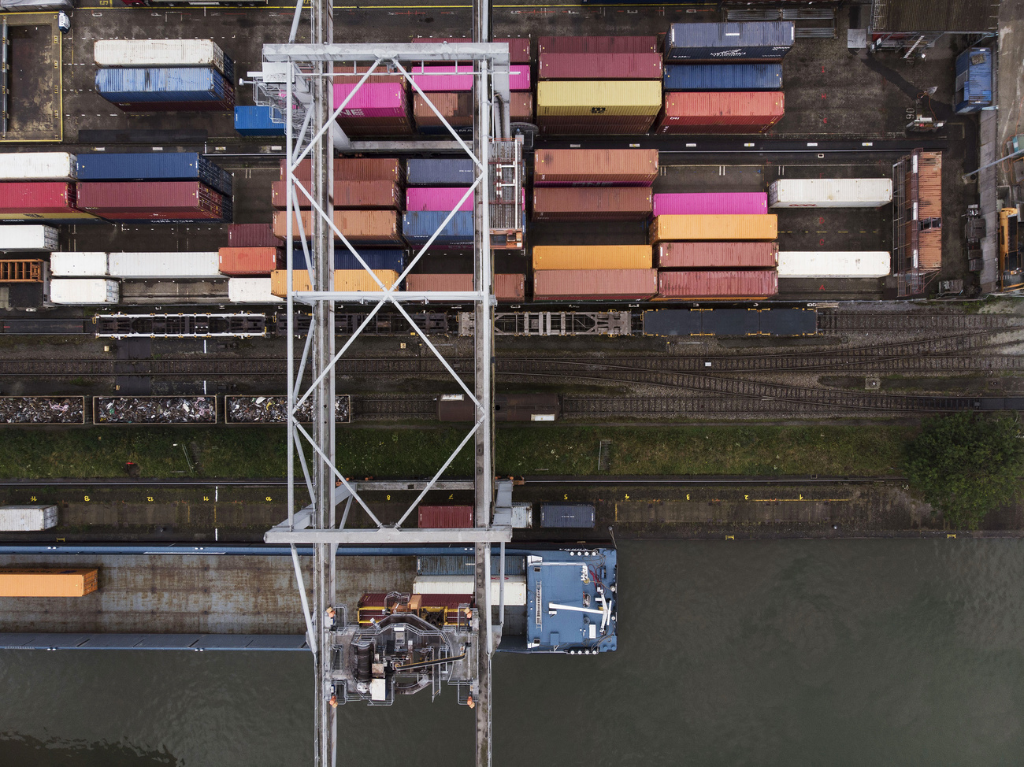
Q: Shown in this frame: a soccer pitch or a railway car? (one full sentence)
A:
Looking from above, you can make out a railway car.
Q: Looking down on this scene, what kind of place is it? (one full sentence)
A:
This image shows a port.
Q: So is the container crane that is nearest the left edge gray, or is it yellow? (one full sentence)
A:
The container crane that is nearest the left edge is gray.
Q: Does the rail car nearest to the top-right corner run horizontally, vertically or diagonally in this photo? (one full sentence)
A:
In this picture, the rail car nearest to the top-right corner lies horizontally.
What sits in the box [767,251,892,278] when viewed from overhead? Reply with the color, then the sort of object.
white shipping container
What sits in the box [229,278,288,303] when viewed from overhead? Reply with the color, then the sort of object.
white shipping container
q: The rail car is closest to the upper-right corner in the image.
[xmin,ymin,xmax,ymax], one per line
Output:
[638,309,821,336]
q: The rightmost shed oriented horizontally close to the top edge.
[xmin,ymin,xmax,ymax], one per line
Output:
[852,0,999,59]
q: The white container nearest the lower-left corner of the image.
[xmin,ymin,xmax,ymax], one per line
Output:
[0,504,58,530]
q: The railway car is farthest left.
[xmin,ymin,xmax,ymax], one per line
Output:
[0,395,93,425]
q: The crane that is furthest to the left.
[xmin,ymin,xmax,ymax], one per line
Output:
[239,0,538,767]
